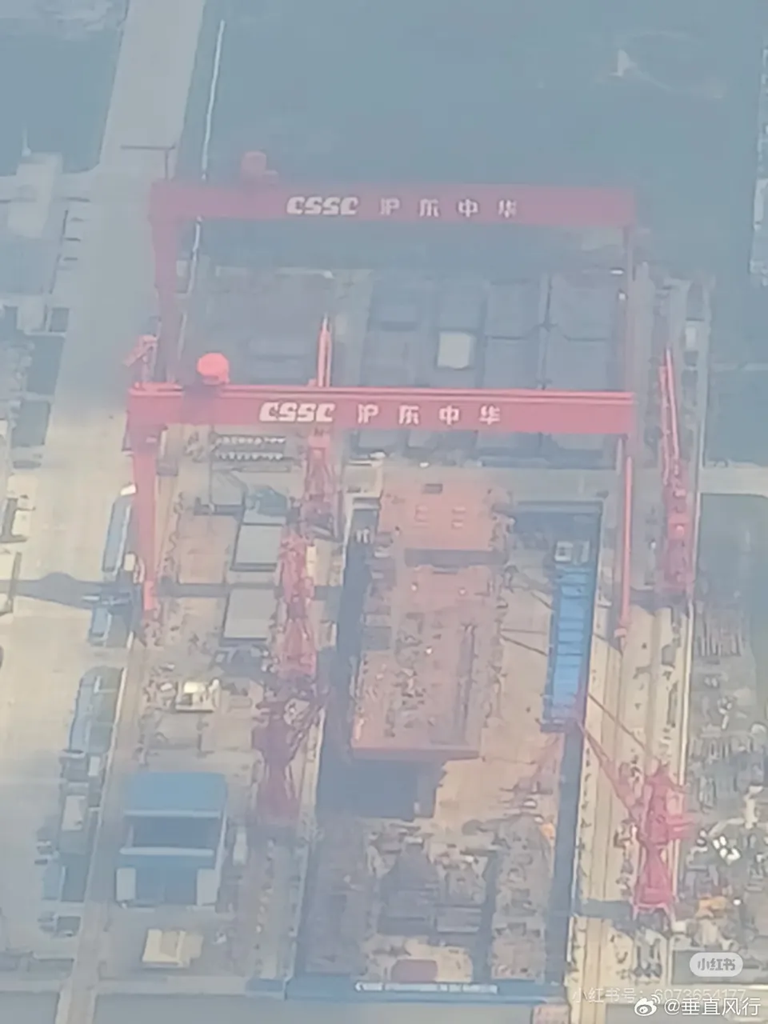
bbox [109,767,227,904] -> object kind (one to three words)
shed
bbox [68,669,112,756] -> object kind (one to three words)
shed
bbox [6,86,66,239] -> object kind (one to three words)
building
